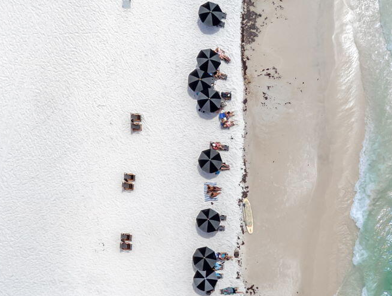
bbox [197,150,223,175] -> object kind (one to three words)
umbrella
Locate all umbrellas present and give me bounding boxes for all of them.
[198,4,223,30]
[196,49,221,74]
[198,90,223,115]
[197,150,223,175]
[194,271,219,294]
[192,247,218,272]
[189,71,213,96]
[196,210,221,235]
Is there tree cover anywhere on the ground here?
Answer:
No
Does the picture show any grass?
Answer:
No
